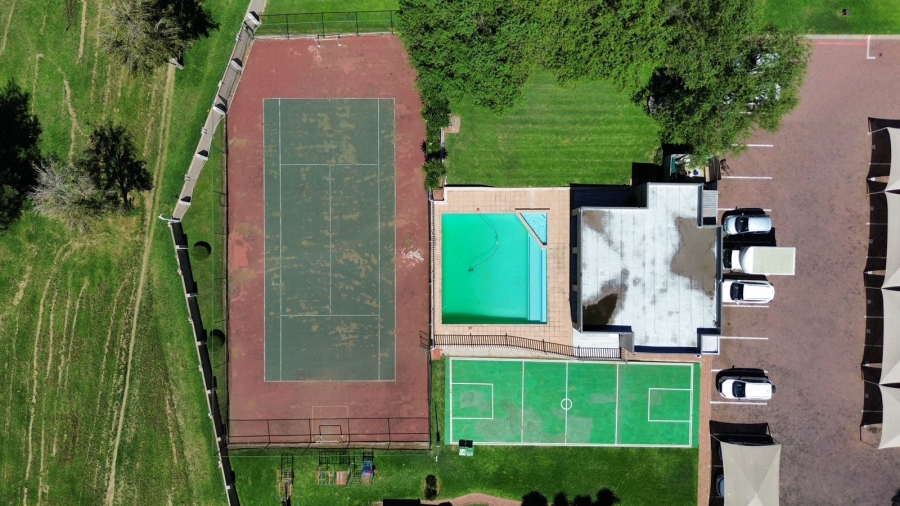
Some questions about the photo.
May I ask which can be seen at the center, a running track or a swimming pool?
swimming pool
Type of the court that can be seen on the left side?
tennis court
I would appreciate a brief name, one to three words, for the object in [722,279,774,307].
car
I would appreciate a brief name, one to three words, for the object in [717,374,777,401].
car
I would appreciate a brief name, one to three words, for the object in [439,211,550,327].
swimming pool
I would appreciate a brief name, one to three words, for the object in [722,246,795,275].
truck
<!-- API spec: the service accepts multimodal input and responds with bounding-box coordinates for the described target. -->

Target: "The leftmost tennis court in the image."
[226,35,433,449]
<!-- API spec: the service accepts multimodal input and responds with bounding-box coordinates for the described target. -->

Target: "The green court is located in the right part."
[446,357,700,447]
